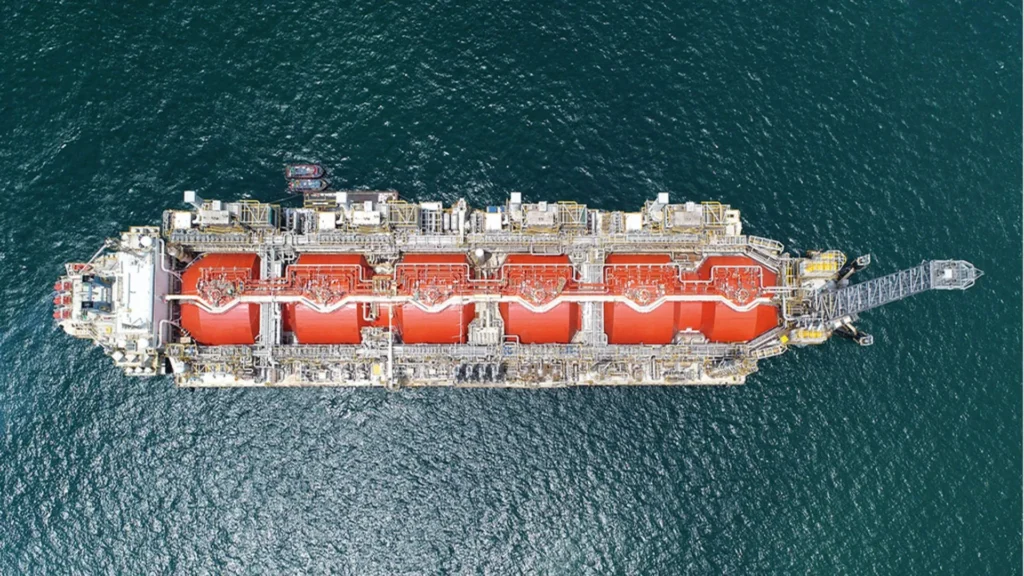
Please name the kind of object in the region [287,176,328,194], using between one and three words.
boat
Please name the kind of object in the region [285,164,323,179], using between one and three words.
boat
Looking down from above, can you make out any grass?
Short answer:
No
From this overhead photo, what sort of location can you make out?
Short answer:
industrial area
